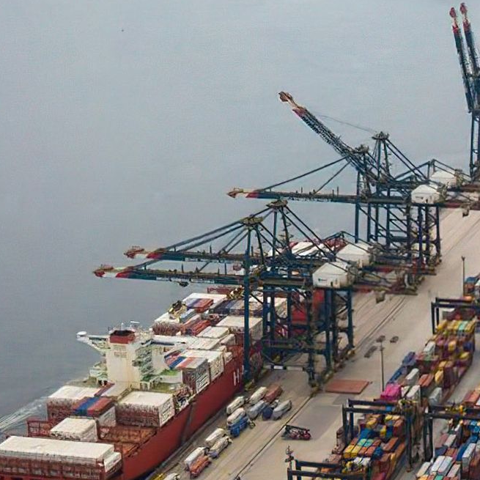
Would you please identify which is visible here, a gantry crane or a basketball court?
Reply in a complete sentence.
This aerial view contains a gantry crane.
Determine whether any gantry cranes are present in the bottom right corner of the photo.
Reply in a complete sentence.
Yes, a gantry crane shows up in the bottom right corner of the photo.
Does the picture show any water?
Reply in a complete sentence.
Yes, water can be seen from above here.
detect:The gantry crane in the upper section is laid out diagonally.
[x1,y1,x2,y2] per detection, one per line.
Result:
[277,86,480,262]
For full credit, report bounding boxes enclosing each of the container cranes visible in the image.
[92,217,416,389]
[288,455,372,480]
[433,294,480,335]
[341,395,420,463]
[277,86,480,262]
[123,200,435,367]
[447,2,480,176]
[227,144,480,283]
